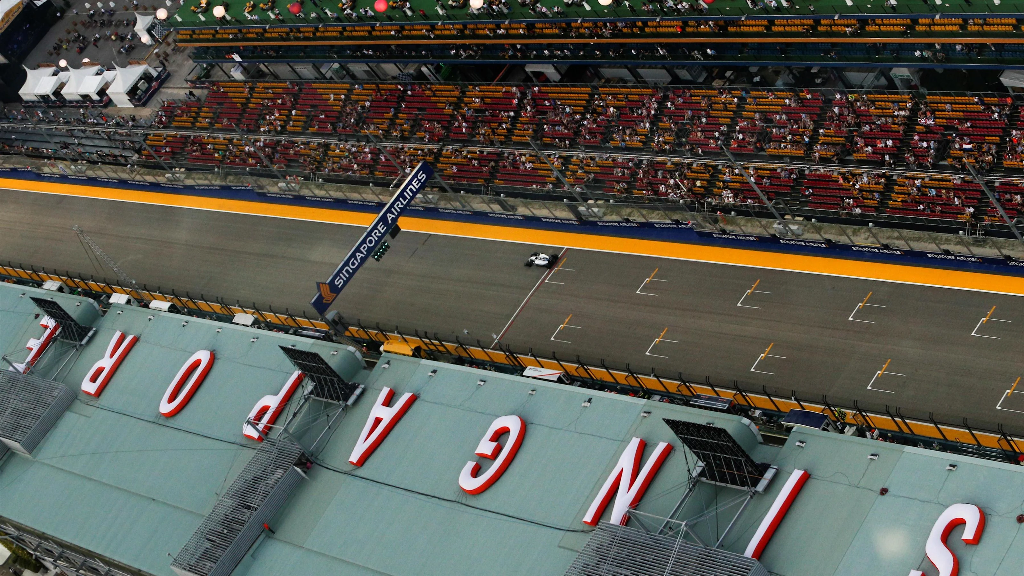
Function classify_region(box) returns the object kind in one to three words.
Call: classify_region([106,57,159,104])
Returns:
tent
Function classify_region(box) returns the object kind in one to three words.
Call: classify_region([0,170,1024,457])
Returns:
race track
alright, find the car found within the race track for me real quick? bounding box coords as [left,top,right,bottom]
[522,250,557,269]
